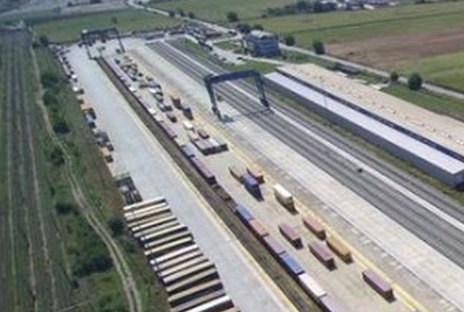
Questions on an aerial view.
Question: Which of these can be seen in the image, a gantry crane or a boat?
gantry crane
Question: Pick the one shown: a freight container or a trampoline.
freight container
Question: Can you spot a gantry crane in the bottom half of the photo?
No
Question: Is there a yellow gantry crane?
No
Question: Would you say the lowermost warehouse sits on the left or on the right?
right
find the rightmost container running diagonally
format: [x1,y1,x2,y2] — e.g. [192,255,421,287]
[363,269,393,299]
